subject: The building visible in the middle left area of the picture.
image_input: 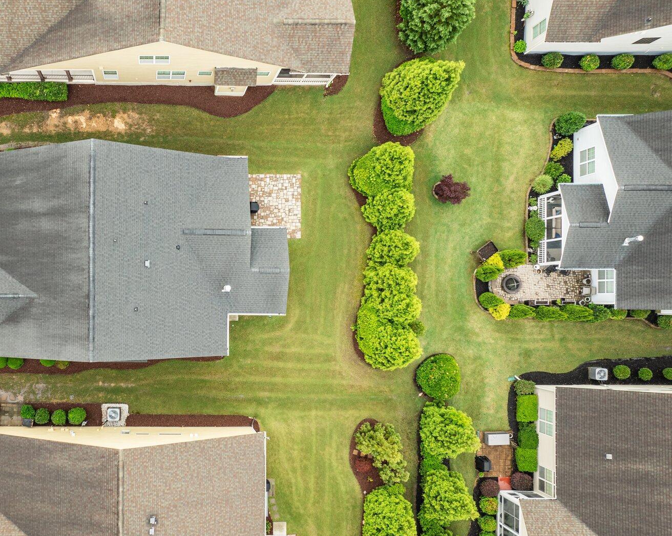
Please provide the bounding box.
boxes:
[0,139,289,362]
